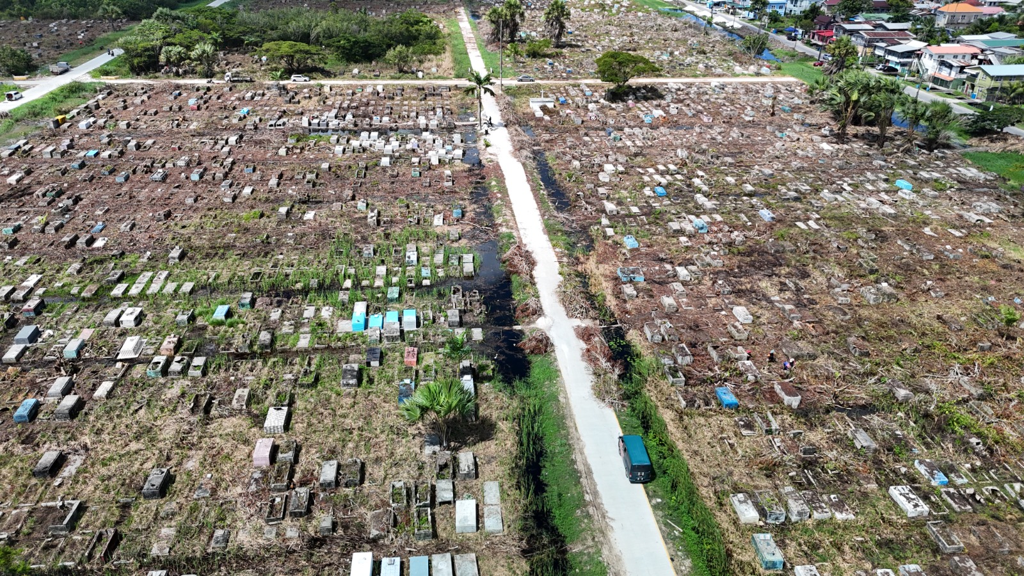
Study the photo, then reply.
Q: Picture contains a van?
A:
Yes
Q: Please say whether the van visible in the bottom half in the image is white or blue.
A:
blue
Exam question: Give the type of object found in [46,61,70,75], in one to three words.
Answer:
vehicle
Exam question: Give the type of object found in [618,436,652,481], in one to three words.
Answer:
van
